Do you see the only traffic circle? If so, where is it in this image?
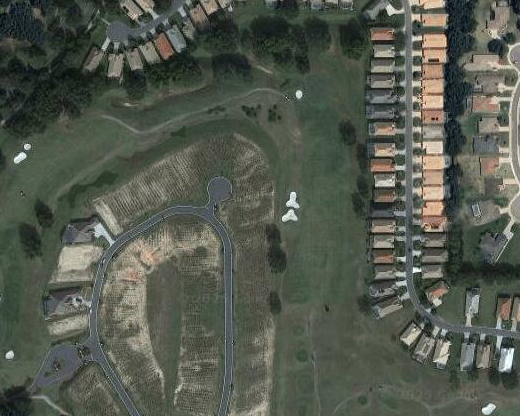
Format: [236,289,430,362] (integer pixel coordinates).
[34,343,98,388]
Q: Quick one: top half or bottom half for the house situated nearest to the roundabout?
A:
bottom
